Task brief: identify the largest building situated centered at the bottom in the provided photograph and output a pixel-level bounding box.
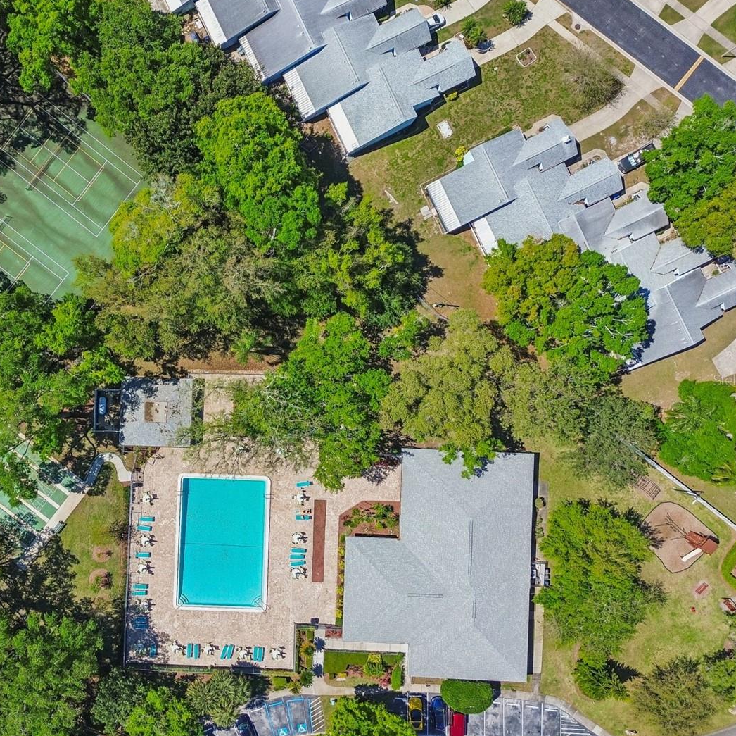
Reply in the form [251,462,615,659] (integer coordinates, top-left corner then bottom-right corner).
[342,448,535,682]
